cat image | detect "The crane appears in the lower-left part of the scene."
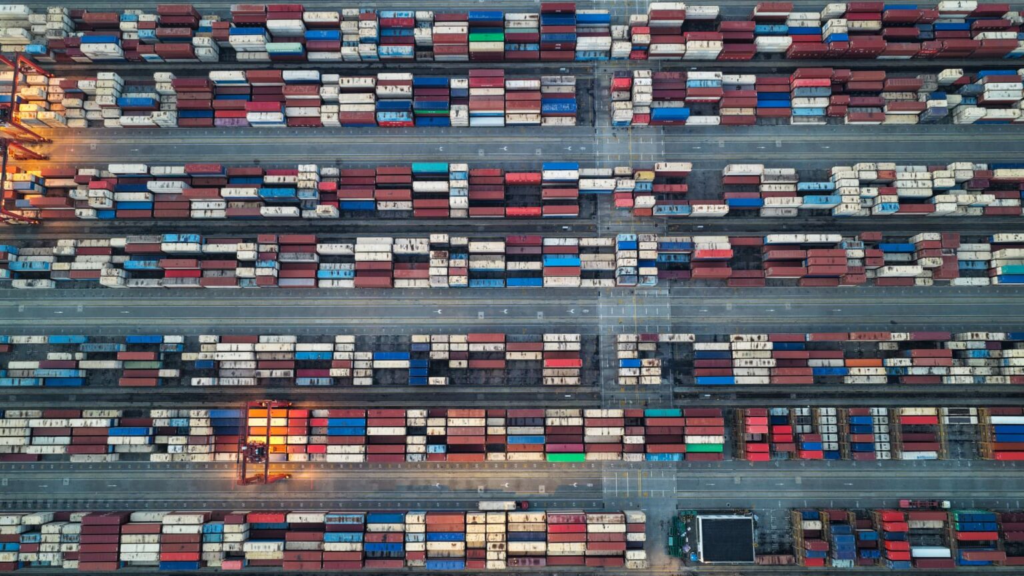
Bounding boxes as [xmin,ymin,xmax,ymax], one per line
[236,401,297,484]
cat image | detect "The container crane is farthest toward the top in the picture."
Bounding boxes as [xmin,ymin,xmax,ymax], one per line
[0,52,60,142]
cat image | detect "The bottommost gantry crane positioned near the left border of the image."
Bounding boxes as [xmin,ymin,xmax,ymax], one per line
[0,138,51,225]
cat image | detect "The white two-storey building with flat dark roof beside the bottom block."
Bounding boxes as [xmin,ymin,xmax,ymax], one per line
[696,513,754,563]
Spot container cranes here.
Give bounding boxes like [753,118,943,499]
[0,52,60,142]
[0,138,51,225]
[236,401,297,484]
